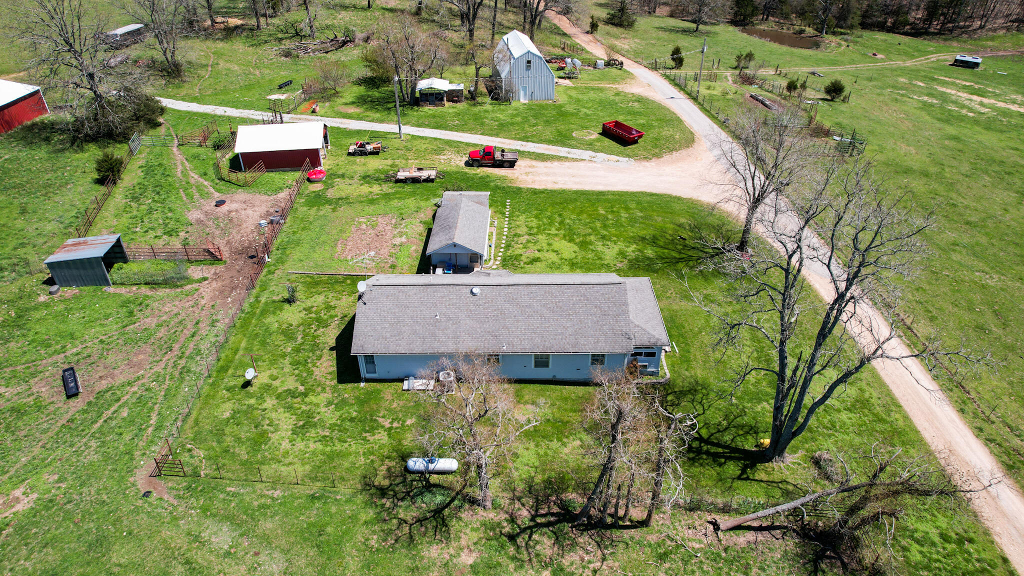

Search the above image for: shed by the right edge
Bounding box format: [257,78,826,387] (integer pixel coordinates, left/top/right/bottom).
[953,50,986,70]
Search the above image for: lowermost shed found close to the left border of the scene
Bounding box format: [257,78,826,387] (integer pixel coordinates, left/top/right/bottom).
[40,231,133,286]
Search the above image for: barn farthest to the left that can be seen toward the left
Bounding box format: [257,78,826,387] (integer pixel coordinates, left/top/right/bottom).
[0,69,50,133]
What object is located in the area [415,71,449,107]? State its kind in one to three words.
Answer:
building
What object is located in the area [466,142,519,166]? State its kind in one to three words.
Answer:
truck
